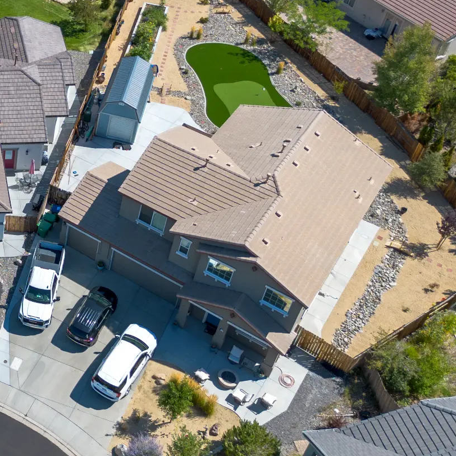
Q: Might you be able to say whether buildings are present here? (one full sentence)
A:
Yes, there's a building down there.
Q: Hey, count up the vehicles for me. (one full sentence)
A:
In total, there are 3 vehicles in the scene.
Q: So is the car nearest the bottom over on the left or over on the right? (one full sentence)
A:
You can find the car nearest the bottom on the left side of the picture.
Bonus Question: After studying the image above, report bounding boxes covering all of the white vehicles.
[19,244,64,327]
[91,327,152,404]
